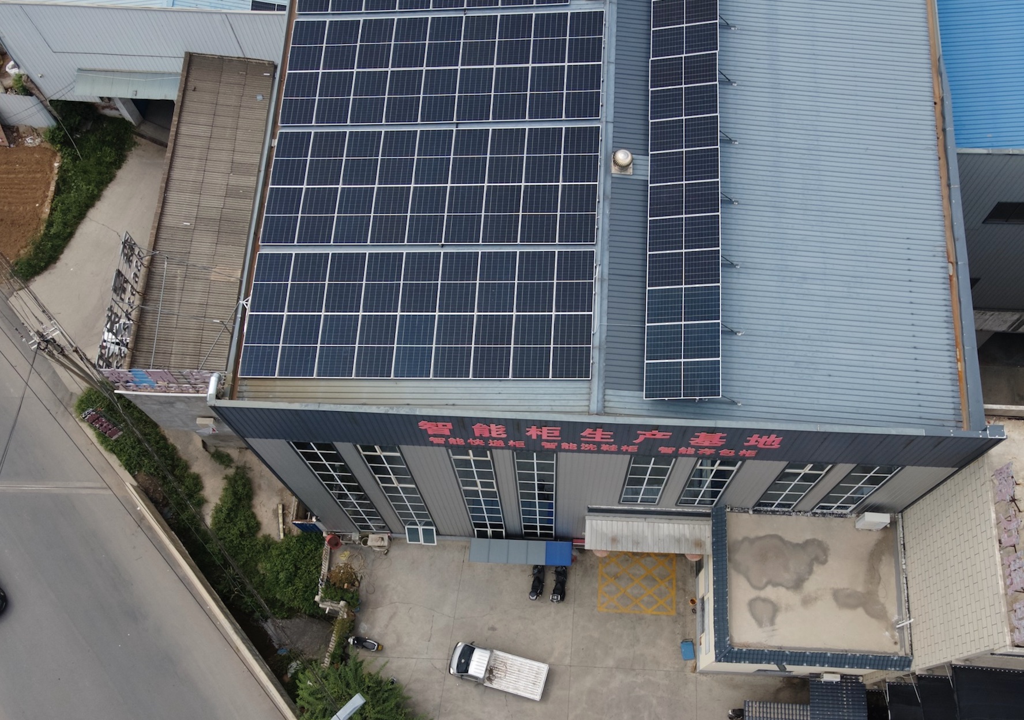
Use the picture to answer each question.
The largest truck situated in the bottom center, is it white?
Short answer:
Yes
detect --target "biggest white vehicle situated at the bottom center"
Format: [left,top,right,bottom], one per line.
[447,637,550,703]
